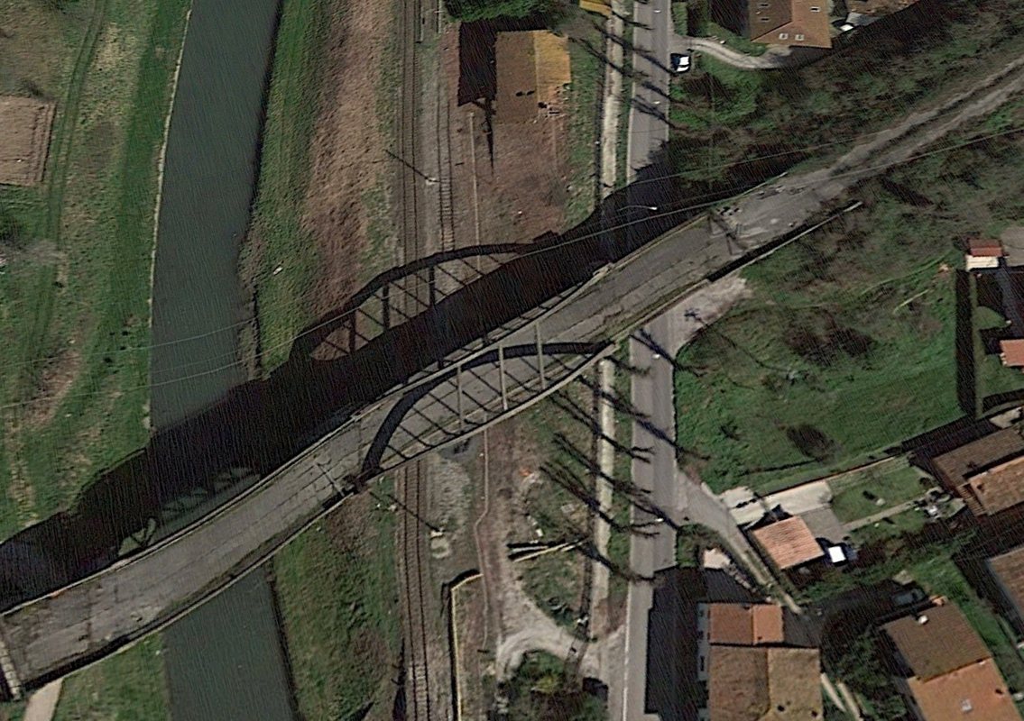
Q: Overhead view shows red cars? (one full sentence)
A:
No, there is no red car in the image.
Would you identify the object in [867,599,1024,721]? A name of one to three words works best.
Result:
house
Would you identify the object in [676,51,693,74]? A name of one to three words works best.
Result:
car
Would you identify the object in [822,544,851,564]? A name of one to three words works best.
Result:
vehicle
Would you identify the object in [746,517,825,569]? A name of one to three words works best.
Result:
building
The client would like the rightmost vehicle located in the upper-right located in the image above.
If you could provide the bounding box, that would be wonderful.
[832,17,859,34]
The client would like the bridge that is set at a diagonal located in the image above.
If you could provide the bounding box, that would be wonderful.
[0,213,717,710]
